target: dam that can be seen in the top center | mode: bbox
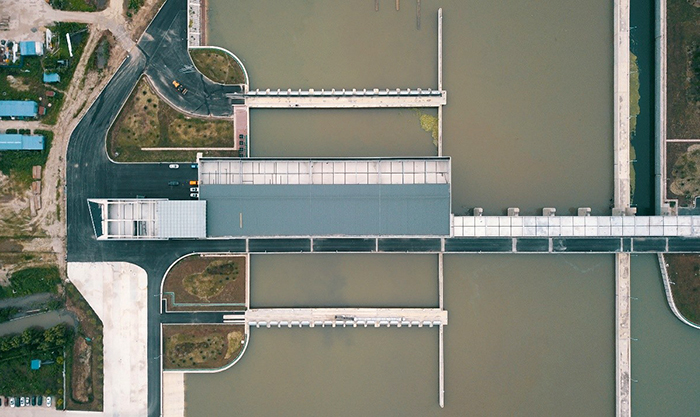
[247,88,447,109]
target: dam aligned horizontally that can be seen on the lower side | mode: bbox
[249,308,447,328]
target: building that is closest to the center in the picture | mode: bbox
[198,153,451,239]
